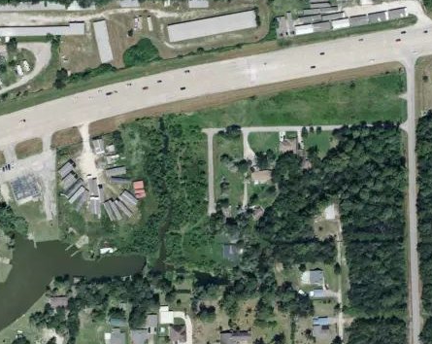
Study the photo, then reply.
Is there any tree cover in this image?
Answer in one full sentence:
Yes, the picture does contain tree cover.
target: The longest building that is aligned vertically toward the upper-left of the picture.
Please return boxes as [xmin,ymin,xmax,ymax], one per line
[94,19,113,64]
